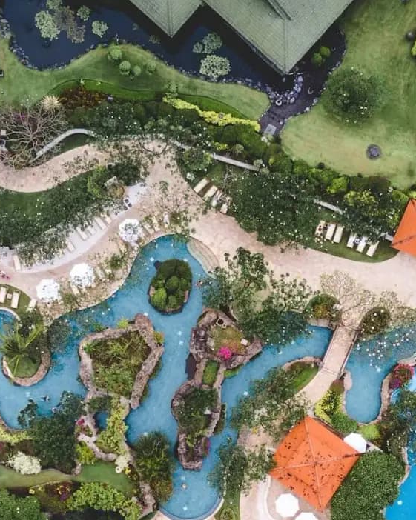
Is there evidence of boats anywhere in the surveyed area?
No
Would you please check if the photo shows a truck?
No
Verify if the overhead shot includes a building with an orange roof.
Yes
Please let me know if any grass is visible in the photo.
Yes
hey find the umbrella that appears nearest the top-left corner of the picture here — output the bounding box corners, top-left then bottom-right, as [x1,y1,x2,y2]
[119,220,140,241]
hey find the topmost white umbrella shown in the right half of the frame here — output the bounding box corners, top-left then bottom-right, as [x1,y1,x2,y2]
[345,432,366,452]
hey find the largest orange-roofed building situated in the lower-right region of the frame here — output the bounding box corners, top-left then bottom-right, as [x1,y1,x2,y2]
[269,417,362,512]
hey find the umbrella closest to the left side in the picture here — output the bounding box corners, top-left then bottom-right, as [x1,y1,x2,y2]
[37,279,59,302]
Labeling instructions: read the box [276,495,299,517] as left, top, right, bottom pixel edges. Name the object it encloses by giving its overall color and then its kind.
white umbrella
